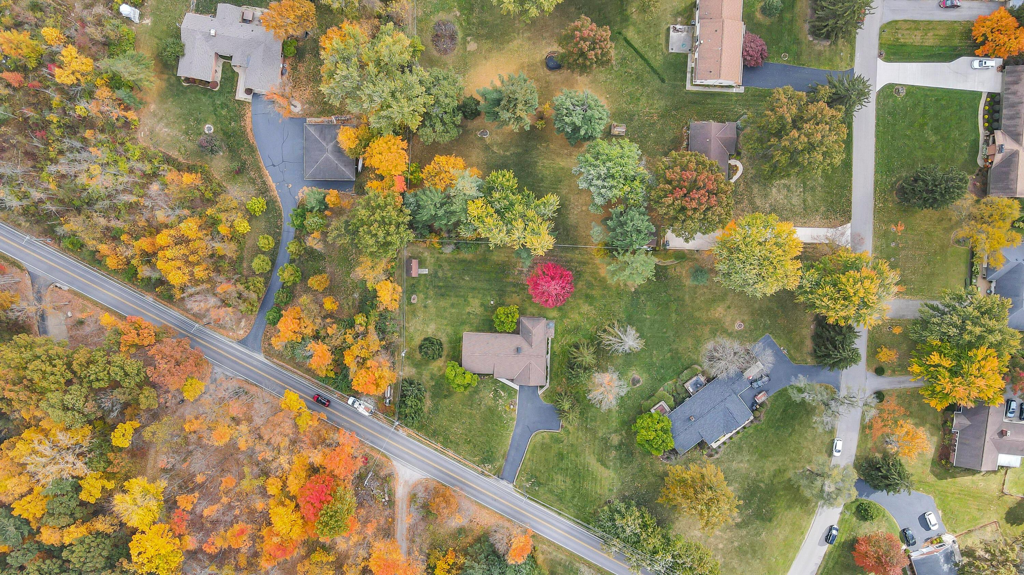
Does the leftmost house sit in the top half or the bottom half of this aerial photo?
top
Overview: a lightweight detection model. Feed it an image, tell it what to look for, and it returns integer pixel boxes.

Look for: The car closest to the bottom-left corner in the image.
[313,394,331,408]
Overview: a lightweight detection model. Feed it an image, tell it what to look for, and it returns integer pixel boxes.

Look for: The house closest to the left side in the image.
[177,3,283,93]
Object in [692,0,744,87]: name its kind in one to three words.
house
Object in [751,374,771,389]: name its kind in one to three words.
vehicle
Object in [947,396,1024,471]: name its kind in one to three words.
house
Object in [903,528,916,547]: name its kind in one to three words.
vehicle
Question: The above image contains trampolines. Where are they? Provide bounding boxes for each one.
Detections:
[545,53,562,71]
